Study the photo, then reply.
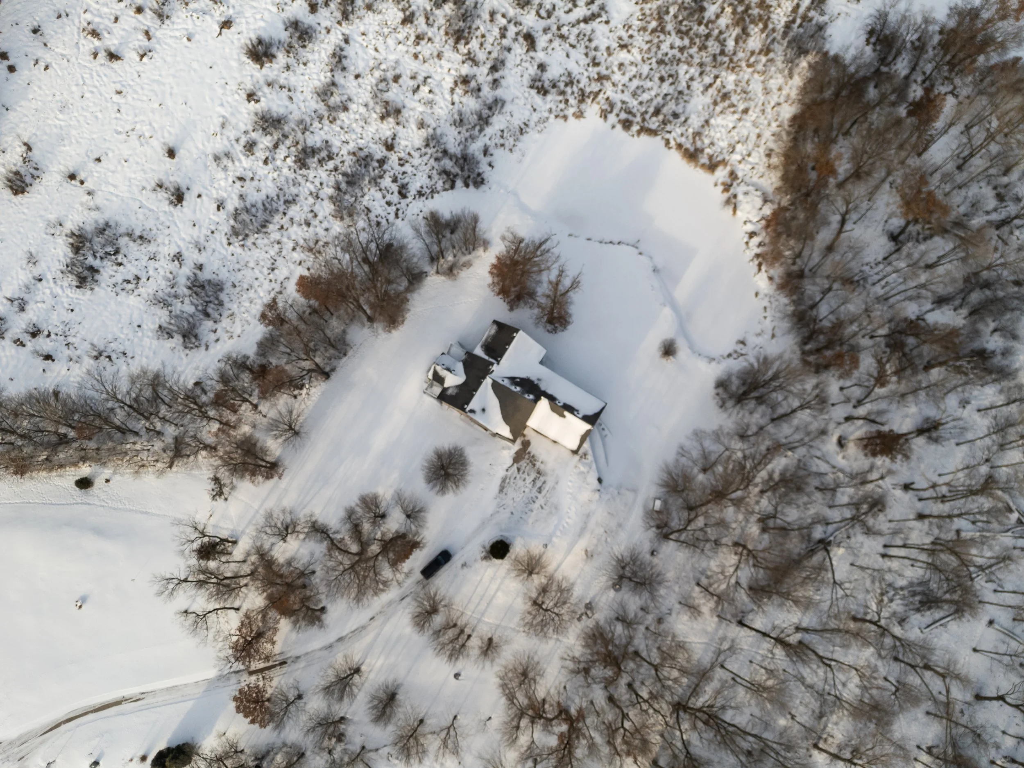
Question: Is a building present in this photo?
Yes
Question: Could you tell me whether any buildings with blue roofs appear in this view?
No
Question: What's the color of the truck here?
black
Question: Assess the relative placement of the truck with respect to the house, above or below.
below it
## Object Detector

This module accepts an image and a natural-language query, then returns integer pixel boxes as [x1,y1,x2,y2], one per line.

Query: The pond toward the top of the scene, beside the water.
[513,114,761,358]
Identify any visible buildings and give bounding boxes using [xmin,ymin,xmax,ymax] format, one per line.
[421,319,607,458]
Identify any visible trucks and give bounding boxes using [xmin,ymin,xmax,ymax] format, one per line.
[419,549,452,581]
